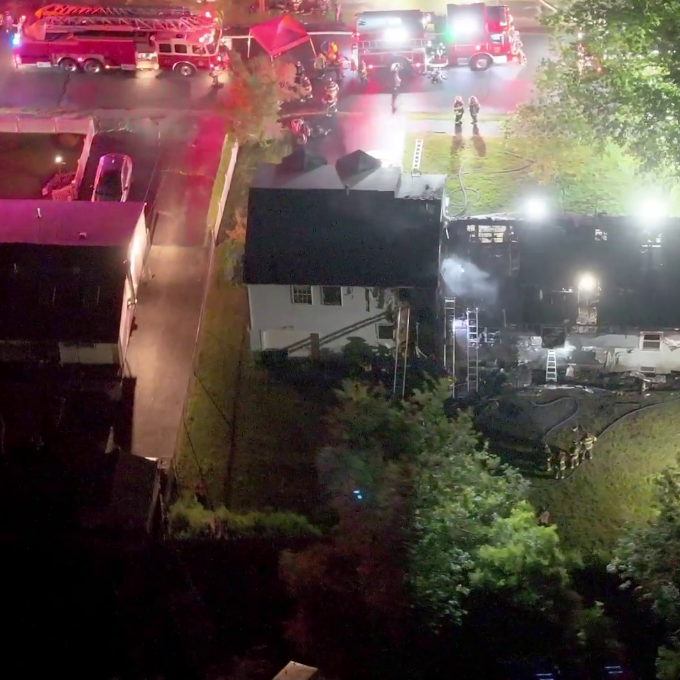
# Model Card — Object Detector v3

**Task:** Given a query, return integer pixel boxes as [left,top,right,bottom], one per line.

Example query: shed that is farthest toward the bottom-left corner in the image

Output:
[68,461,167,566]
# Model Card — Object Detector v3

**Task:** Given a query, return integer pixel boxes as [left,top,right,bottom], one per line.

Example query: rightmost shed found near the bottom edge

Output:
[279,660,317,680]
